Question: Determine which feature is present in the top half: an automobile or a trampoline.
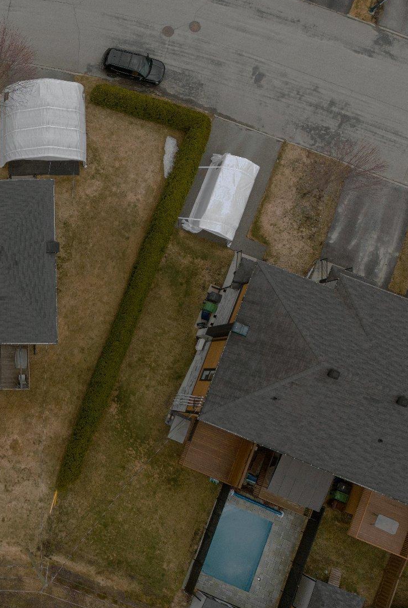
automobile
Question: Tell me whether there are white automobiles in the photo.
No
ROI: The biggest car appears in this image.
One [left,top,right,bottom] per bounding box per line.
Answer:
[98,45,166,88]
